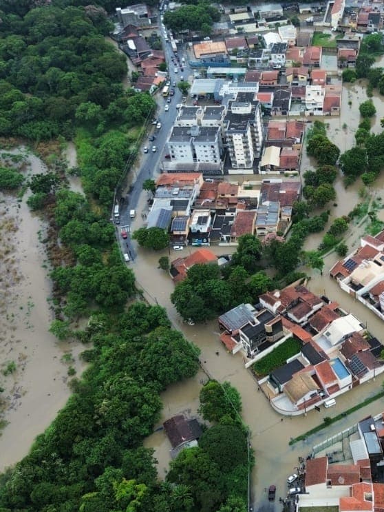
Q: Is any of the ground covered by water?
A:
Yes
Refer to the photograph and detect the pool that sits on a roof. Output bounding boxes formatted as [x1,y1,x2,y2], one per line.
[331,358,351,381]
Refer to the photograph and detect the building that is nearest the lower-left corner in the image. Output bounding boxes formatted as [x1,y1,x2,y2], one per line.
[162,414,204,452]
